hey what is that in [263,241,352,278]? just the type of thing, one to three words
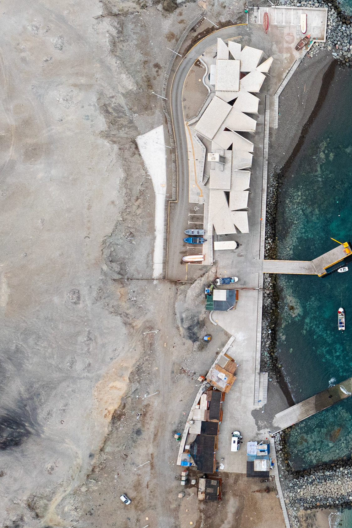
pier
